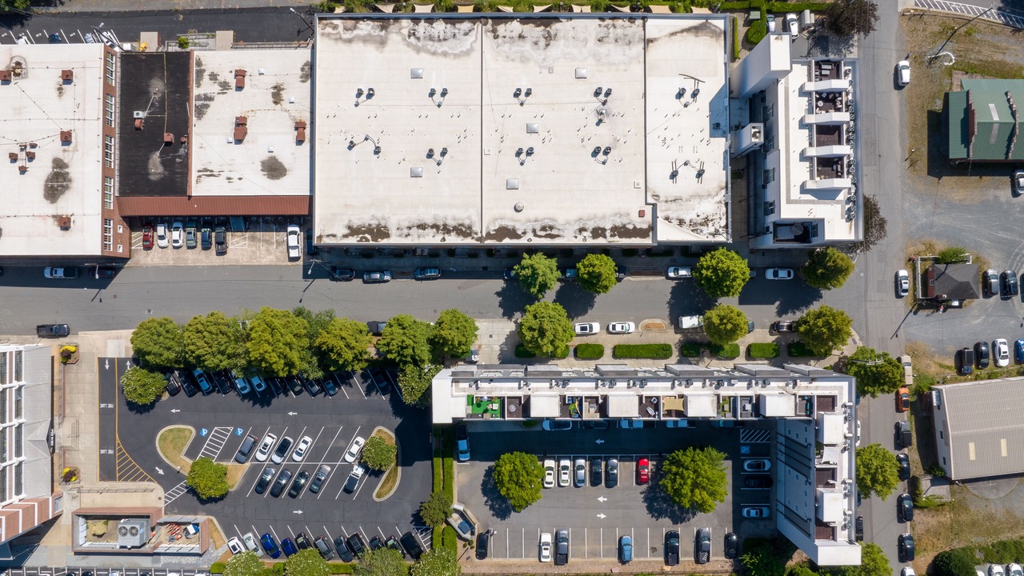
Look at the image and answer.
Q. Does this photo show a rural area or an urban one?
urban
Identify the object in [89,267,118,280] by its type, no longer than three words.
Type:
vehicle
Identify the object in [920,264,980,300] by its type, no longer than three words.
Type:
house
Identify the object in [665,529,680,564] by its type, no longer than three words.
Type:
vehicle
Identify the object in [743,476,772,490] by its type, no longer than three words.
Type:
car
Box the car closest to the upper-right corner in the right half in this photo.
[896,60,912,88]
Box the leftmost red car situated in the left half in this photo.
[140,222,156,250]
